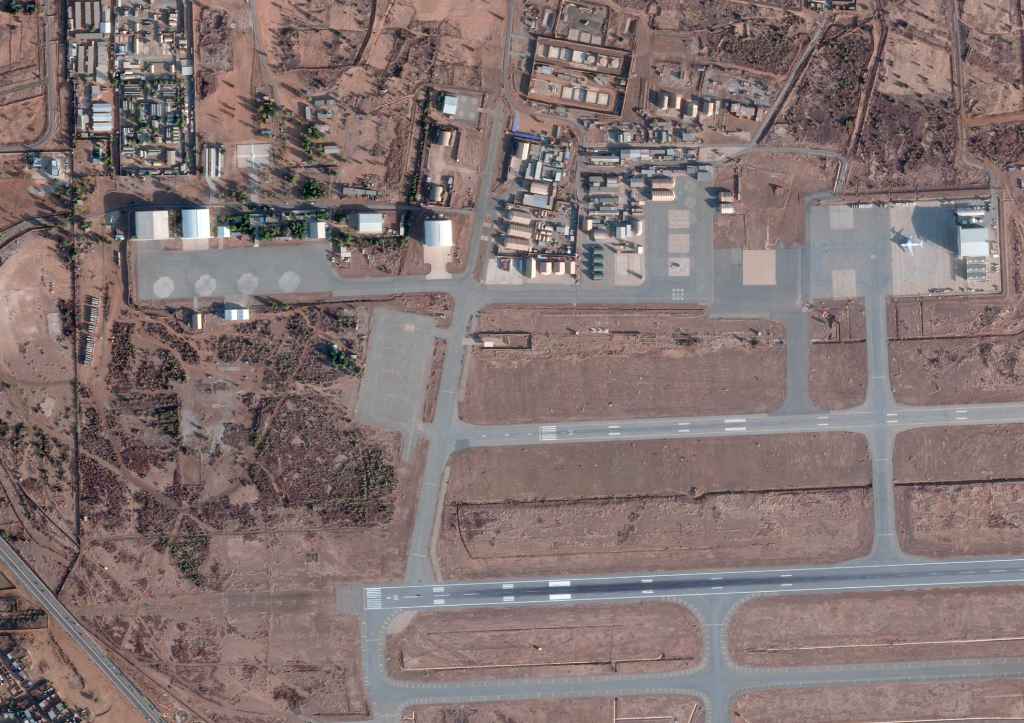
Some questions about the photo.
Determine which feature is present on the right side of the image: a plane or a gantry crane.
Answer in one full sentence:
The one visible on the right side of the image is a plane.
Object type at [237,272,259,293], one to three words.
helipad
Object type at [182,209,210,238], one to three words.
hangar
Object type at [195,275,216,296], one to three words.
helipad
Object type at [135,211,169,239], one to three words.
hangar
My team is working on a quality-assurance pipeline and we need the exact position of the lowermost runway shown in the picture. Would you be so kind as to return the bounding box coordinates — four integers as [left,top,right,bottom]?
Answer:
[336,556,1024,615]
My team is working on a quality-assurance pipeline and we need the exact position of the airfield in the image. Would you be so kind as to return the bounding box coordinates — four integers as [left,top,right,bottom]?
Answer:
[137,101,1024,723]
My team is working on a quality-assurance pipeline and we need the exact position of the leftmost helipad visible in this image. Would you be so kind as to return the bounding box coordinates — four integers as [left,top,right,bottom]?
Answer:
[153,277,174,298]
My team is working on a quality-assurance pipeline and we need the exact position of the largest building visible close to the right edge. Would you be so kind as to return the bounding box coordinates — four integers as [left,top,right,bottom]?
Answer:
[957,227,989,256]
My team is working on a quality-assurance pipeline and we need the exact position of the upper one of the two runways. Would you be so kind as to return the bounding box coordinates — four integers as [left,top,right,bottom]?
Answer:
[480,402,1024,447]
